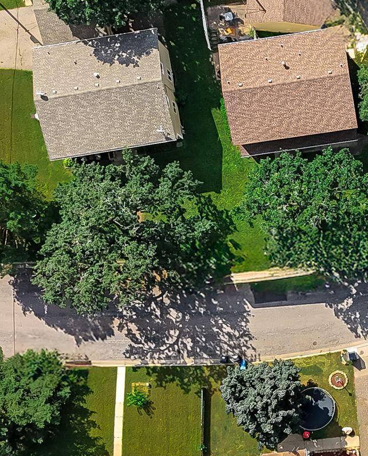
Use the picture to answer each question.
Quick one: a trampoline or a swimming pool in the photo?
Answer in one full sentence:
The one in the frame is a trampoline.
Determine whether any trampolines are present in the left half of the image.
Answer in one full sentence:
No, I can find no trampoline in the left half of the image.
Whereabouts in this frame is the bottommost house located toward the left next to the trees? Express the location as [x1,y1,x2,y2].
[32,26,187,169]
